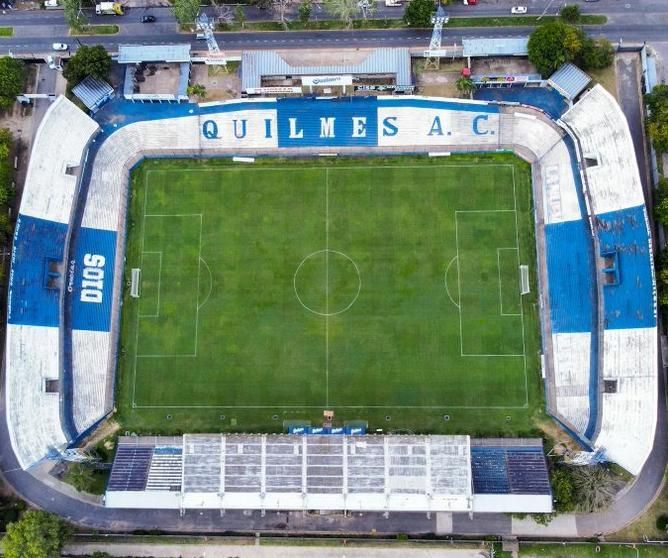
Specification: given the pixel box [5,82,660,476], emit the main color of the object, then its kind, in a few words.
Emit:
white stadium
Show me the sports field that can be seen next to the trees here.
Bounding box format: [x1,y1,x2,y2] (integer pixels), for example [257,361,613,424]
[113,155,552,441]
